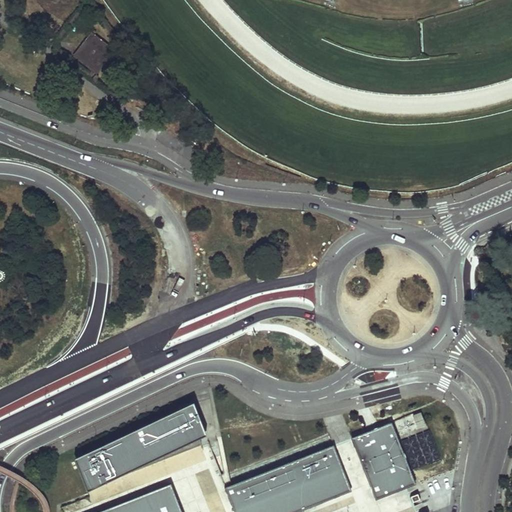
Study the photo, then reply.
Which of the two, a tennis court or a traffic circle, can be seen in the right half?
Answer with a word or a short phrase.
traffic circle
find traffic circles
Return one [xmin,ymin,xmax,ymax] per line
[316,223,464,371]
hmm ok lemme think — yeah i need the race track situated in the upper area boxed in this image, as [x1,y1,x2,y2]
[104,0,512,191]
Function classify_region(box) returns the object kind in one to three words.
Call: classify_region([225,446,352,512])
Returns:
building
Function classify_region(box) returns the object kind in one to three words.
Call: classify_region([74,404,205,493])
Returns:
building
